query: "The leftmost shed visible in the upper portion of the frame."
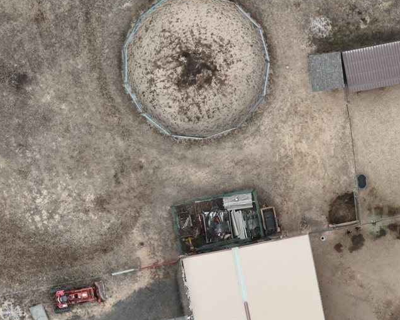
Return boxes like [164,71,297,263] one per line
[307,52,344,96]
